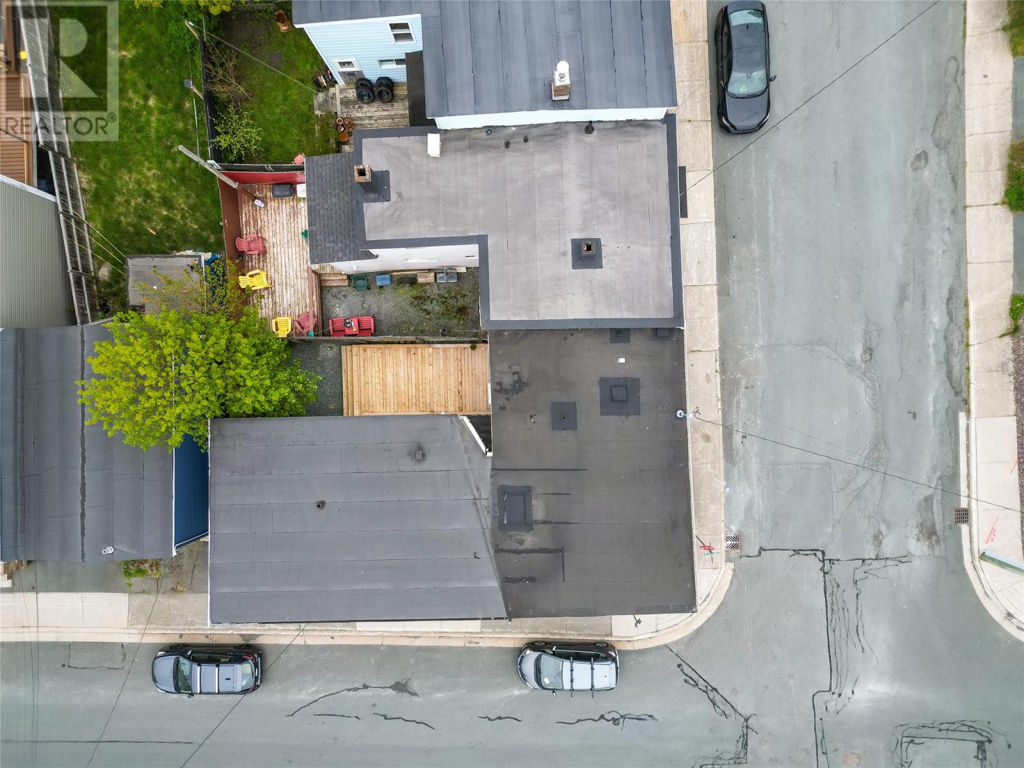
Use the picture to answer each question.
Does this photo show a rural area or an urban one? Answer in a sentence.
It looks urban.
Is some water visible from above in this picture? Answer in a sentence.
No, the picture contains no water.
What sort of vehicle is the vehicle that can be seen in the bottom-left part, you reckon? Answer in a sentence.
Looking closely, the vehicle that can be seen in the bottom-left part is a car.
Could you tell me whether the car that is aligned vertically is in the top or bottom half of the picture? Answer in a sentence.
The top half of the photo is where the car that is aligned vertically is.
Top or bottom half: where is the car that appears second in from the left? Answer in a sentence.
Seen from above, the car that appears second in from the left lies in the bottom half of the view.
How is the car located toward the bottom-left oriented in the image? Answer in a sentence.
What the image shows is the car located toward the bottom-left lying from side to side.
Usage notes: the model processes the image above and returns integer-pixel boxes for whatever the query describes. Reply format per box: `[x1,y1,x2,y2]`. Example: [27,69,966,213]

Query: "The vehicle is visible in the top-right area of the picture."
[715,1,779,135]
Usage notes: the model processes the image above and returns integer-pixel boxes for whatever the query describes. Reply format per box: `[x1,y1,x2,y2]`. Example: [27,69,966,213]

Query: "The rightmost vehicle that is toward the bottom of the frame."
[517,641,620,700]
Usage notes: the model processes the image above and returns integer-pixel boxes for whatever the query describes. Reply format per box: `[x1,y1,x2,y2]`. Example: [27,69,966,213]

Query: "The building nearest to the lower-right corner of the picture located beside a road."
[484,328,700,619]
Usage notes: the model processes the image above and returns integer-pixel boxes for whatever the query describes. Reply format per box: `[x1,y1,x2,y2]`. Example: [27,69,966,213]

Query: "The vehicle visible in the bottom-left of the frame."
[151,645,263,701]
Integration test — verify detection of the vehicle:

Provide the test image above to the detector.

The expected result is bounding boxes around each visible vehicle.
[517,641,620,700]
[151,645,263,701]
[715,1,779,135]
